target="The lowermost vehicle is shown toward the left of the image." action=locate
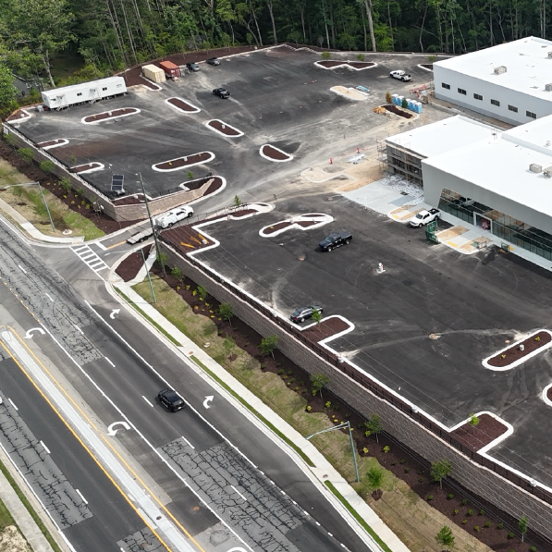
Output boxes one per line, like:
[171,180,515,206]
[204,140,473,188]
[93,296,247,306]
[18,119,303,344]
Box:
[158,385,184,408]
